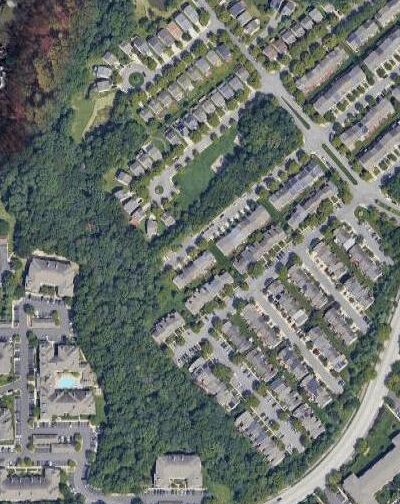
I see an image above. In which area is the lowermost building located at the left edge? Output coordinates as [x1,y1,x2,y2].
[0,467,61,503]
